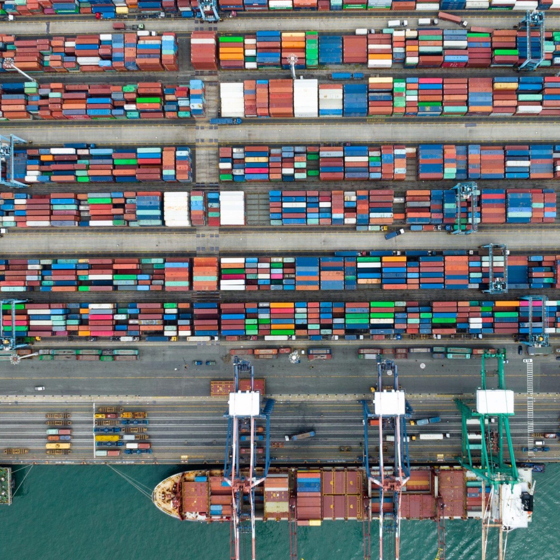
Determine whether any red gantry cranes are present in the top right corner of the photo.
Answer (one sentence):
No, there is no red gantry crane in the top right corner of the photo.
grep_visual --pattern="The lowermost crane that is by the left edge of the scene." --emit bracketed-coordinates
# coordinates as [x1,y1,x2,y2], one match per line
[0,298,36,349]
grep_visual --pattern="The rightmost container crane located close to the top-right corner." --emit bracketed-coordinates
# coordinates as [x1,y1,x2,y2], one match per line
[512,9,546,73]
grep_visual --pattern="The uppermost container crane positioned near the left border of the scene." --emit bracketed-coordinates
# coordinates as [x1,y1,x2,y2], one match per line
[0,134,35,190]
